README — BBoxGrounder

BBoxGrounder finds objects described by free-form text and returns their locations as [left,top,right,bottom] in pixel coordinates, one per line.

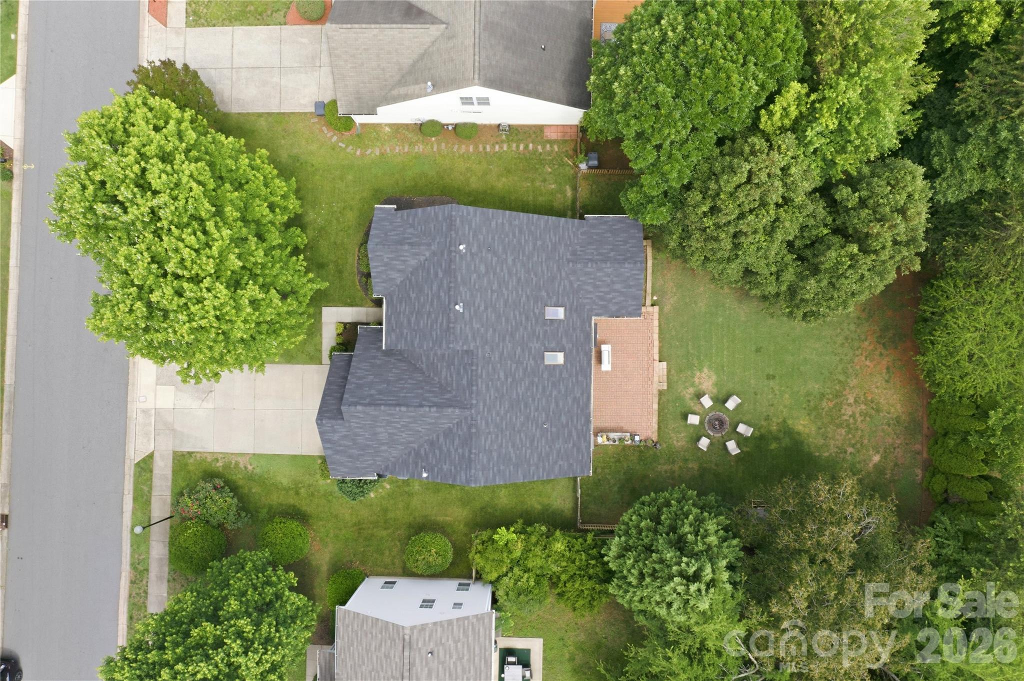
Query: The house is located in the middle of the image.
[318,204,645,485]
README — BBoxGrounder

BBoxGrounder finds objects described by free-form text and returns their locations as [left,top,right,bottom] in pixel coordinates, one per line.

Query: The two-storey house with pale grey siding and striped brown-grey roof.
[315,579,496,681]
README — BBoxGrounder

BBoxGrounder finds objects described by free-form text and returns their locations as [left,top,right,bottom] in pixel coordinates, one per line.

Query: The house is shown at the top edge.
[328,0,593,142]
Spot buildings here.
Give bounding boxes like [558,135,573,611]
[328,0,593,142]
[315,579,496,681]
[318,204,645,485]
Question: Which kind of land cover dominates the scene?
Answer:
trees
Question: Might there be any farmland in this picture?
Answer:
No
